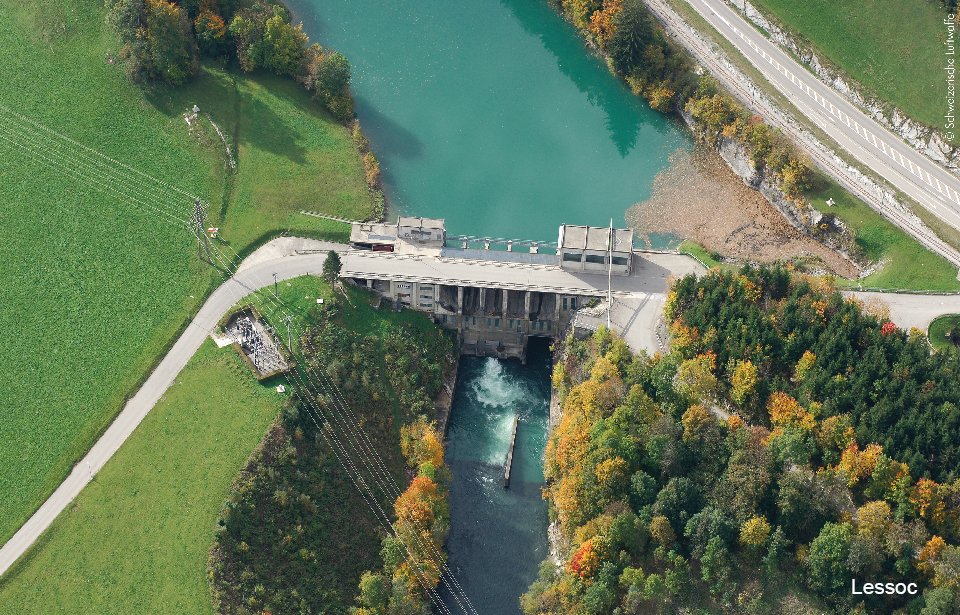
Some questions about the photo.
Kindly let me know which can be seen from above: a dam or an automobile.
dam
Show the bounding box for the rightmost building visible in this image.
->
[559,223,634,276]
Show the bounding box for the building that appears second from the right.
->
[398,217,448,248]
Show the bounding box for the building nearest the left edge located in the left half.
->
[350,225,399,252]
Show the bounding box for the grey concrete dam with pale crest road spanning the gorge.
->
[335,230,634,368]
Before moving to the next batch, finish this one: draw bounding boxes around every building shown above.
[559,223,634,276]
[350,225,399,252]
[398,217,448,248]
